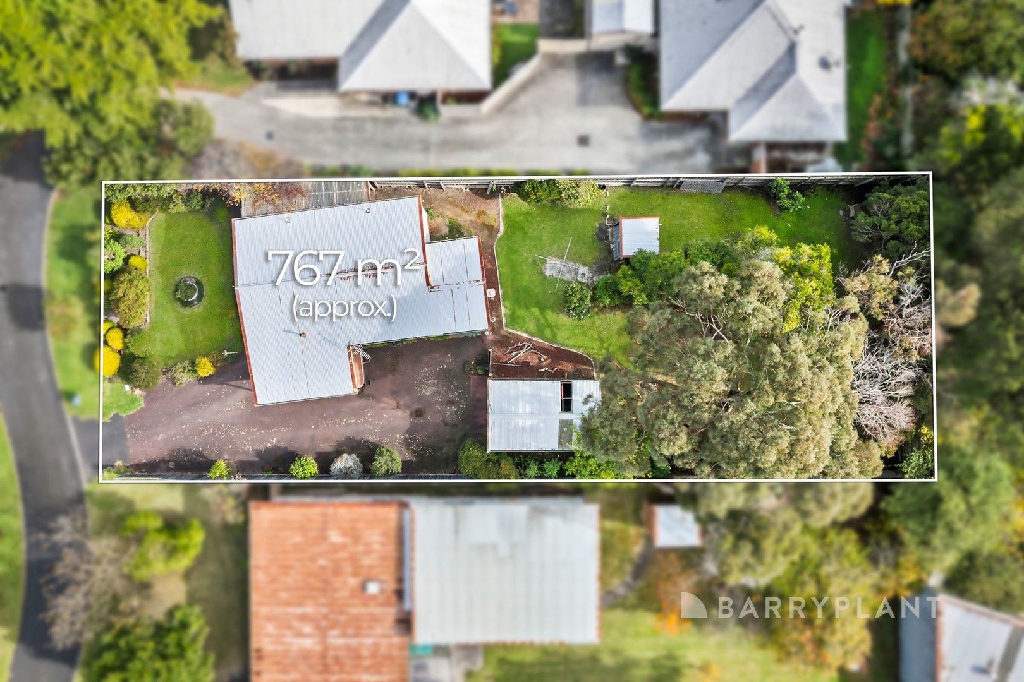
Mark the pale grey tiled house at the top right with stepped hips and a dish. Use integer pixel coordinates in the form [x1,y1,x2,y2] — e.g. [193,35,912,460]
[655,0,857,145]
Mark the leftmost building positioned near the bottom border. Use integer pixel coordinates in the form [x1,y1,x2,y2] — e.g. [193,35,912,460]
[247,500,412,682]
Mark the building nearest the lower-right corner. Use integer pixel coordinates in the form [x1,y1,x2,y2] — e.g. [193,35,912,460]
[901,585,1024,682]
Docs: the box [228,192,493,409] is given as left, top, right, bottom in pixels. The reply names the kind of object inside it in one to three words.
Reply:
house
